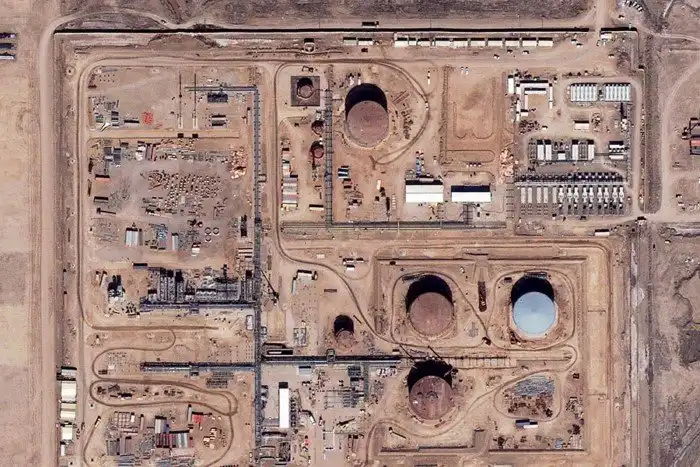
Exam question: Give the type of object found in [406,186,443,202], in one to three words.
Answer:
building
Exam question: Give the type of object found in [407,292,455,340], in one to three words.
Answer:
storage tank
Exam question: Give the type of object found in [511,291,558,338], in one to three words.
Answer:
storage tank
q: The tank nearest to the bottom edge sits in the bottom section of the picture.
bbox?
[407,375,455,424]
